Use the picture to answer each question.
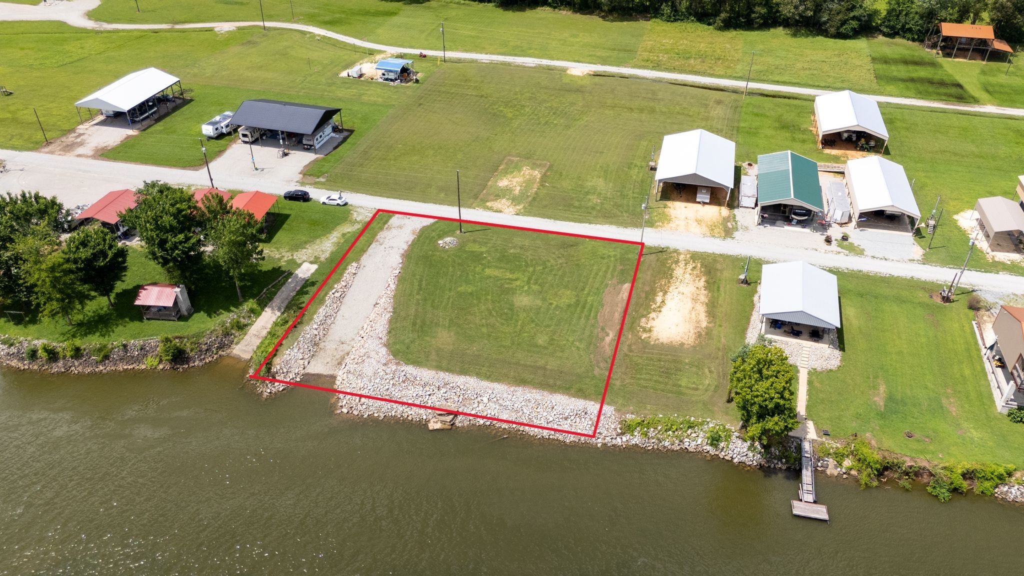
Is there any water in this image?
Yes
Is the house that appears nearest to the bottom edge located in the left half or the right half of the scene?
right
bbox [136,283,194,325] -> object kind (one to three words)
building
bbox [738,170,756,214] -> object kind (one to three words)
trailer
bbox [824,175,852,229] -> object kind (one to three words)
trailer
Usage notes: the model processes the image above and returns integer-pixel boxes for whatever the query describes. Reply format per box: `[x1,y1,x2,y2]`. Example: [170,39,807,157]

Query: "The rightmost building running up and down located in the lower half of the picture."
[988,308,1024,390]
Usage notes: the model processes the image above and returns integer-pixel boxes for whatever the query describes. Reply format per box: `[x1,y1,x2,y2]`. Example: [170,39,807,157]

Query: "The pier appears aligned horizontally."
[791,500,828,523]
